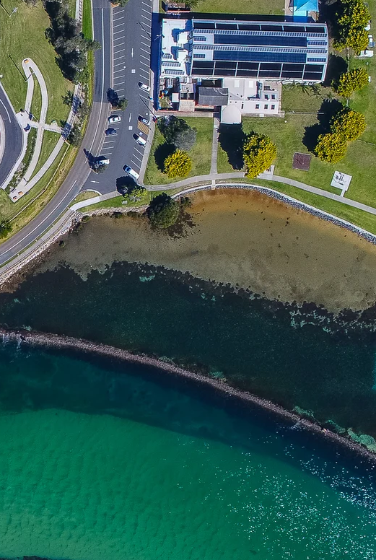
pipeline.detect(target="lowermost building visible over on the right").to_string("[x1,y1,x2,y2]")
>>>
[190,18,329,87]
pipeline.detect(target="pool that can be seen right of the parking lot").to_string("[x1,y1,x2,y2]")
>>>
[293,1,309,22]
